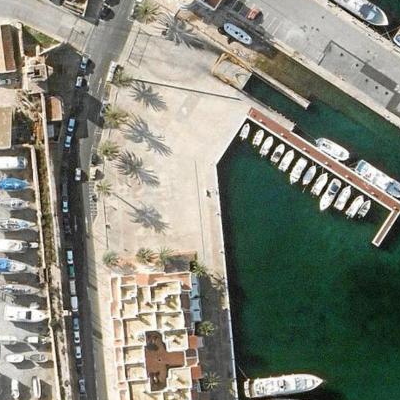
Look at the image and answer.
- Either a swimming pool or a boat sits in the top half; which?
boat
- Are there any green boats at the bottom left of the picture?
No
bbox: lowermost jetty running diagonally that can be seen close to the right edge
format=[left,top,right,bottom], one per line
[247,108,400,246]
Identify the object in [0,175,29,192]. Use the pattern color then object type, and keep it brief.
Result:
blue boat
